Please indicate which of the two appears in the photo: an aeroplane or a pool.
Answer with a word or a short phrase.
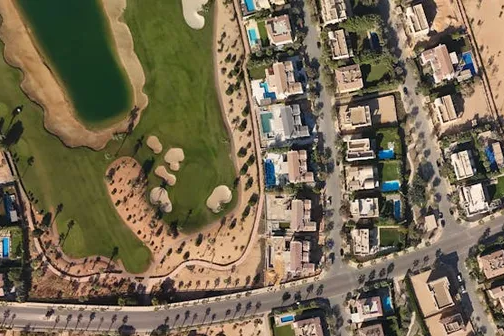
pool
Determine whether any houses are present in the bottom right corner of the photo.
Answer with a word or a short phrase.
Yes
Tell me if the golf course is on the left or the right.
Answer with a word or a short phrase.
left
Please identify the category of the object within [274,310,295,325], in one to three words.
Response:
swimming pool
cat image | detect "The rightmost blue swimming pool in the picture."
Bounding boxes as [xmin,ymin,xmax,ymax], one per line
[483,144,497,169]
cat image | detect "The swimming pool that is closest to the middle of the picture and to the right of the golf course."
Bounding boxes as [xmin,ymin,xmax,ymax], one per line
[264,155,286,189]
